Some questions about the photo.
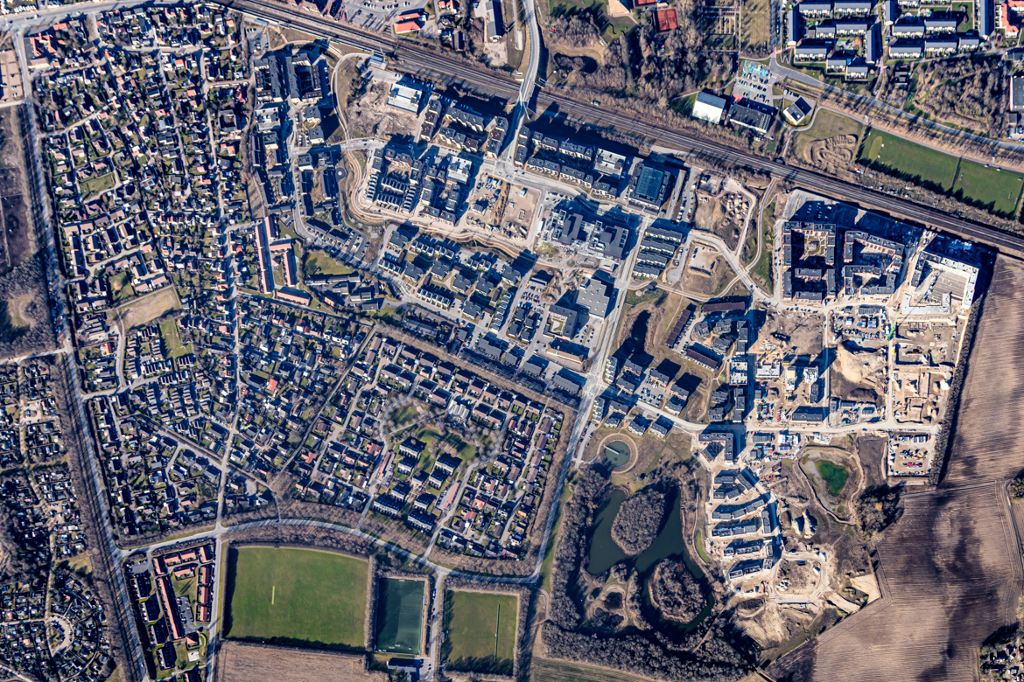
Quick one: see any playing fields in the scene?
Yes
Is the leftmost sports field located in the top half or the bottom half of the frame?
bottom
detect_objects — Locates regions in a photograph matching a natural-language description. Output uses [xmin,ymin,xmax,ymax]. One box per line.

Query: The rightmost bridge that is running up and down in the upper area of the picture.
[497,0,549,161]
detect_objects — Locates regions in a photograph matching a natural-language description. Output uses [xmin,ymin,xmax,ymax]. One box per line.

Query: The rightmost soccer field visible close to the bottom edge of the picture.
[446,590,518,673]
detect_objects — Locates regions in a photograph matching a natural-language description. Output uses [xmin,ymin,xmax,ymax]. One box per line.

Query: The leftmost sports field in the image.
[225,546,369,649]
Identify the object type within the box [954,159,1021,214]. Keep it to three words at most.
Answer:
soccer field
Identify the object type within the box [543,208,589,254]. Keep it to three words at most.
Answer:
building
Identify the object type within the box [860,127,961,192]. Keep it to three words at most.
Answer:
sports field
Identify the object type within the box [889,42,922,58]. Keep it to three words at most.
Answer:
building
